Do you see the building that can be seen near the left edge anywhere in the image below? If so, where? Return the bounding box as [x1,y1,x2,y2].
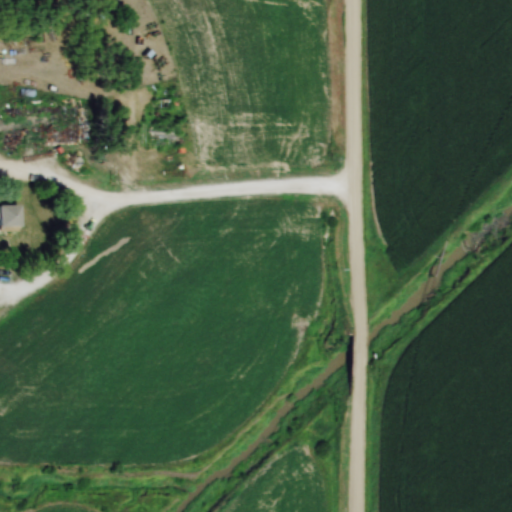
[1,205,24,232]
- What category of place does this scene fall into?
farmland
